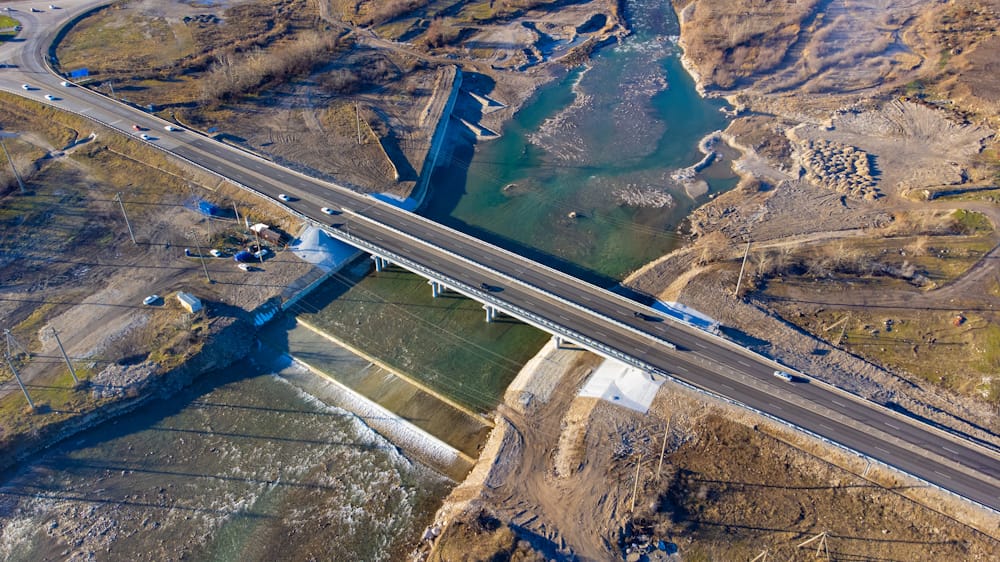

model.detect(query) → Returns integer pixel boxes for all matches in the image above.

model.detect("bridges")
[317,195,687,370]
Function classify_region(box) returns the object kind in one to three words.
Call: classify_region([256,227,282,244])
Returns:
building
